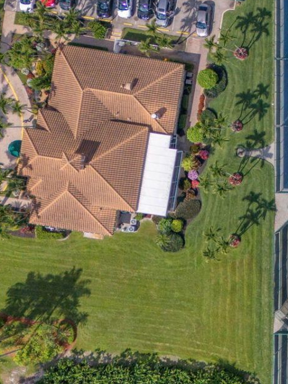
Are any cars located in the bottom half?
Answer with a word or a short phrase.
No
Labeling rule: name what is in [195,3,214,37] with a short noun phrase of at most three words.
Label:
car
